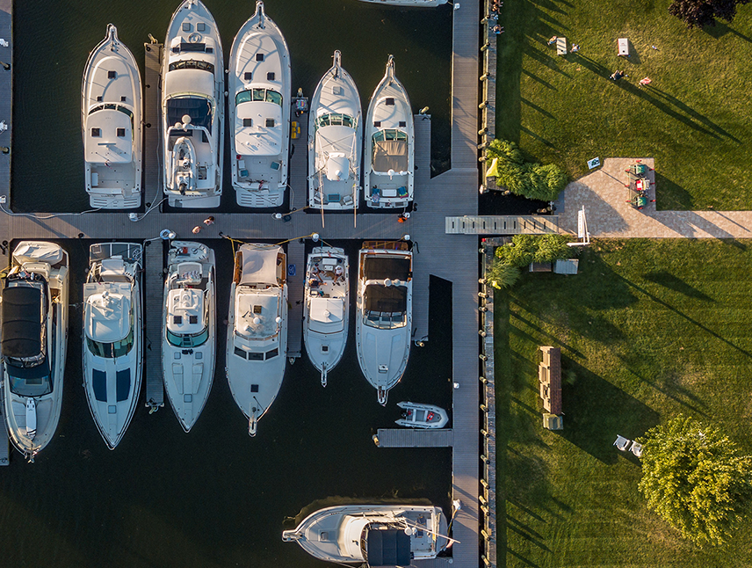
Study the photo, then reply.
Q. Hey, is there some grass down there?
Yes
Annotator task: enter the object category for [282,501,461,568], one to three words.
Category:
boat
